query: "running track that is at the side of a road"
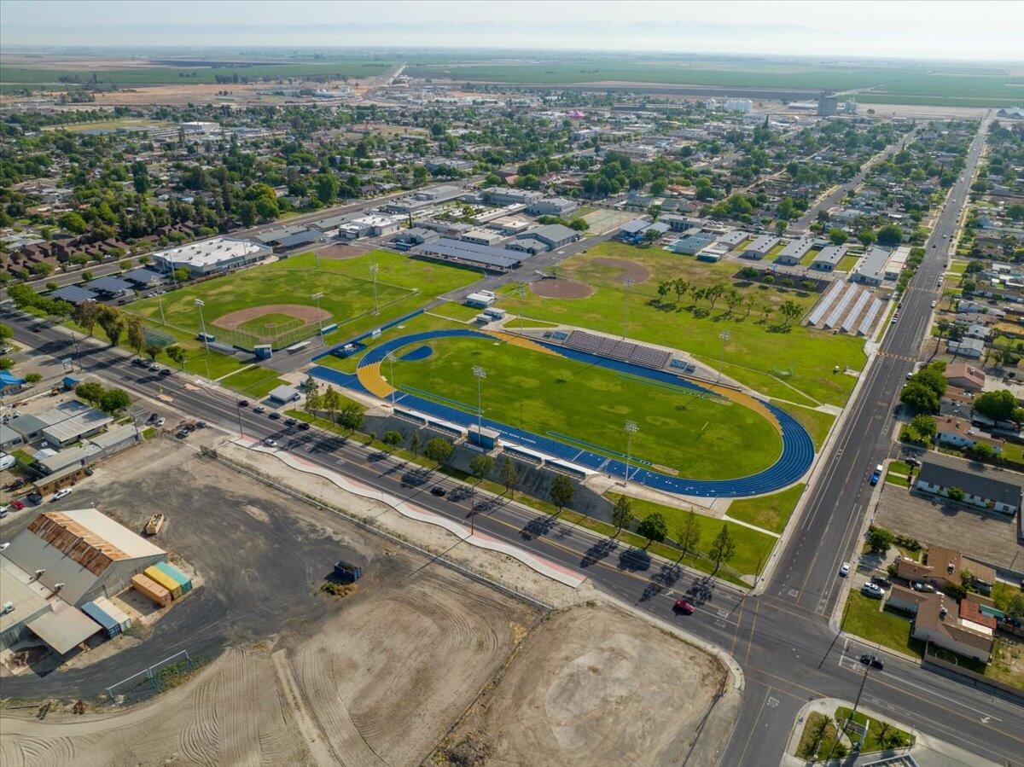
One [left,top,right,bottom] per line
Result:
[359,329,810,497]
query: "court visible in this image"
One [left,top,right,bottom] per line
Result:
[582,209,642,233]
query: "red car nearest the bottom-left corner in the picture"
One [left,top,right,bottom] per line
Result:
[11,498,23,511]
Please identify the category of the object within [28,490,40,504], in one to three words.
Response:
vehicle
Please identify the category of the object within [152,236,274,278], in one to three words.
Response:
building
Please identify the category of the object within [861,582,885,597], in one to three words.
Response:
car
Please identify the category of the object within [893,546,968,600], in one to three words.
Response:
house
